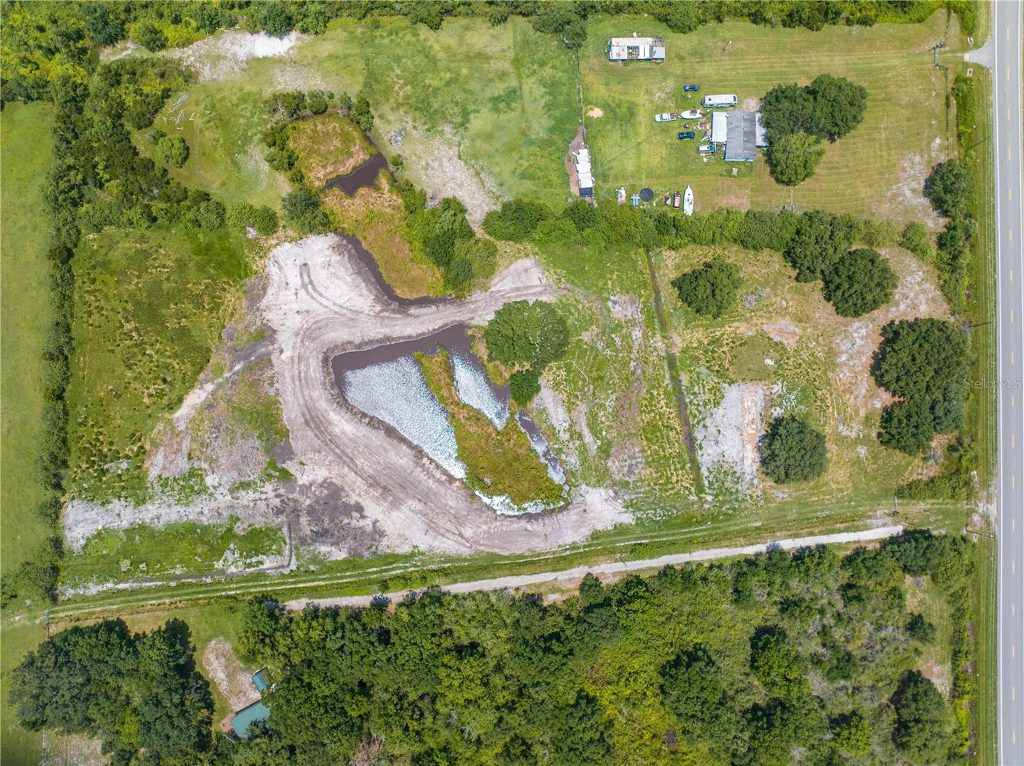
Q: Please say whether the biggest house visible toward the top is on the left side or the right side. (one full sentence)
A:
The biggest house visible toward the top is on the right side of the image.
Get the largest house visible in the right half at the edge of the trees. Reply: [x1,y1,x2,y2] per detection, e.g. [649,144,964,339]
[711,110,769,161]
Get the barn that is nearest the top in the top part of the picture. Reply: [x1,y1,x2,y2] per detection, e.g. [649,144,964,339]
[609,37,665,61]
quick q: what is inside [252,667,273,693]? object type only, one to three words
shed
